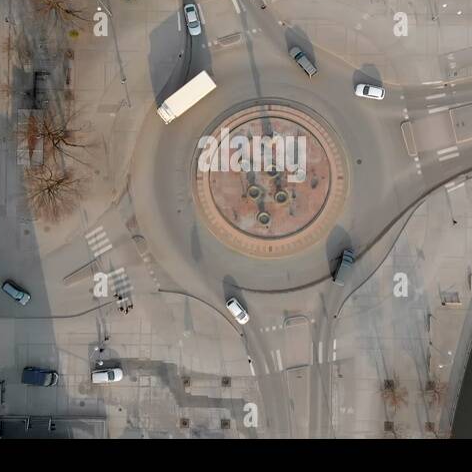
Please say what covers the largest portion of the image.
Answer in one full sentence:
The bulk of the photo consists of paved ground.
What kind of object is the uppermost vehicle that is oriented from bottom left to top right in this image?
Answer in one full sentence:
Looking closely, the uppermost vehicle that is oriented from bottom left to top right is a truck.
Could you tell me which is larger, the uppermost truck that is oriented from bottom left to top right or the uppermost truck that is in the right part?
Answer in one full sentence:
The larger object is the uppermost truck that is oriented from bottom left to top right, with the uppermost truck that is in the right part being the smaller of the pair.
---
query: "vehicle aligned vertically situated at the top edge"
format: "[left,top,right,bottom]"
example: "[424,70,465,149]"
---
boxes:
[185,3,200,35]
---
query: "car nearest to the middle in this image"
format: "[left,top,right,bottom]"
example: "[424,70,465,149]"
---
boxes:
[225,297,249,325]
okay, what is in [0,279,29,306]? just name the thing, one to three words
car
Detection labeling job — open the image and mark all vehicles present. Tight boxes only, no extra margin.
[21,368,58,386]
[159,66,219,122]
[290,45,318,77]
[332,250,357,286]
[225,297,249,325]
[355,83,386,100]
[185,3,200,35]
[91,367,123,384]
[0,279,29,306]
